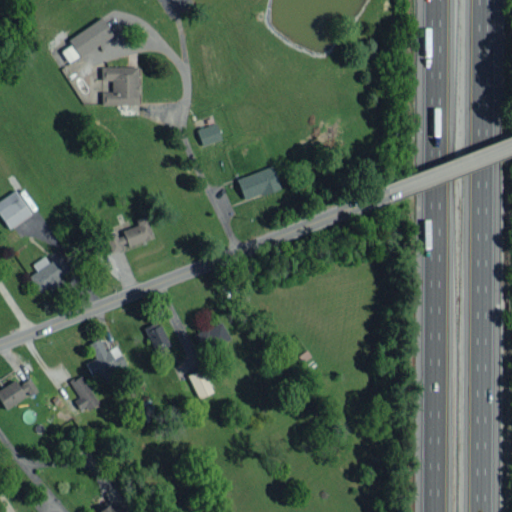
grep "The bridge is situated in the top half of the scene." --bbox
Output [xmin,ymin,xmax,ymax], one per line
[382,138,512,202]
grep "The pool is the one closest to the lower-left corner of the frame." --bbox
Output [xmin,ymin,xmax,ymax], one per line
[22,410,38,424]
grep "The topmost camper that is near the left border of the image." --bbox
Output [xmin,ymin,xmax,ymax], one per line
[20,190,38,212]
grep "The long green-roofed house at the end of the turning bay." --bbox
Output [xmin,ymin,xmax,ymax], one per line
[240,168,282,200]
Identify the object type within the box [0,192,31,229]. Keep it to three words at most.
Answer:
building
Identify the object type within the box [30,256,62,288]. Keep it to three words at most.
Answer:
house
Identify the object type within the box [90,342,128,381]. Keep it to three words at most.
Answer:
house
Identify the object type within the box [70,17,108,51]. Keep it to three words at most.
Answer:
building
